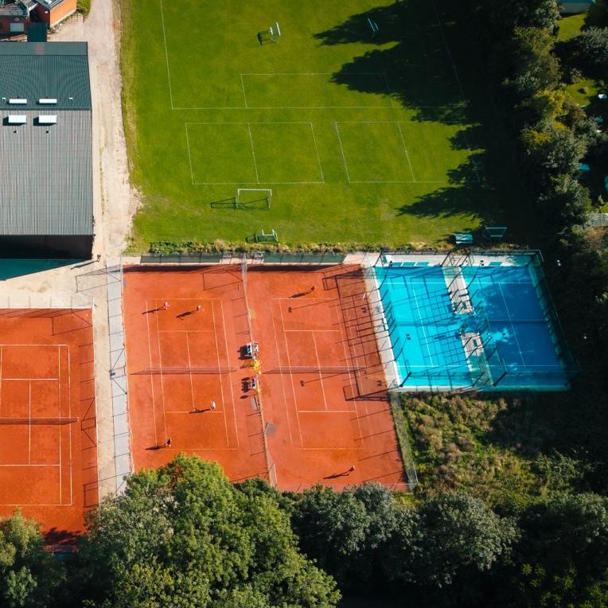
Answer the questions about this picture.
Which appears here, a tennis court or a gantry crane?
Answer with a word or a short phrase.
tennis court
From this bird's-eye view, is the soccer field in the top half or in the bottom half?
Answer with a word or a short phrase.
top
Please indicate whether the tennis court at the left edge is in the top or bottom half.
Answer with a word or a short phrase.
bottom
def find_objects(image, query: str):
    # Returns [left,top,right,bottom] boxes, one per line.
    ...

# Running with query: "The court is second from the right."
[374,251,486,387]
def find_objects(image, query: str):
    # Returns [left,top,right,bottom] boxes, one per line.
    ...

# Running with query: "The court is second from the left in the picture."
[124,265,271,486]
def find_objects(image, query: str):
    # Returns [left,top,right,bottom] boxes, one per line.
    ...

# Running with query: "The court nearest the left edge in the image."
[0,309,98,556]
